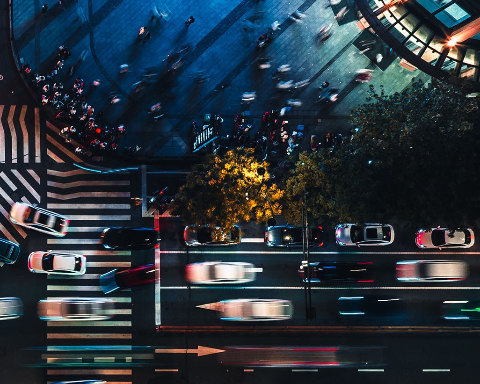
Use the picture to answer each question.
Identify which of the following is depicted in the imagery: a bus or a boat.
bus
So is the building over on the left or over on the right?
right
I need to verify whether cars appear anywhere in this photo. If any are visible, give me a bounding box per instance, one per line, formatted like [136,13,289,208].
[46,295,106,322]
[185,226,241,248]
[0,238,21,263]
[27,248,87,276]
[333,221,396,248]
[265,222,325,250]
[400,256,464,285]
[304,258,368,286]
[9,202,71,235]
[414,226,475,251]
[190,259,251,286]
[0,297,14,320]
[225,295,286,324]
[99,261,164,294]
[100,223,162,252]
[341,293,399,320]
